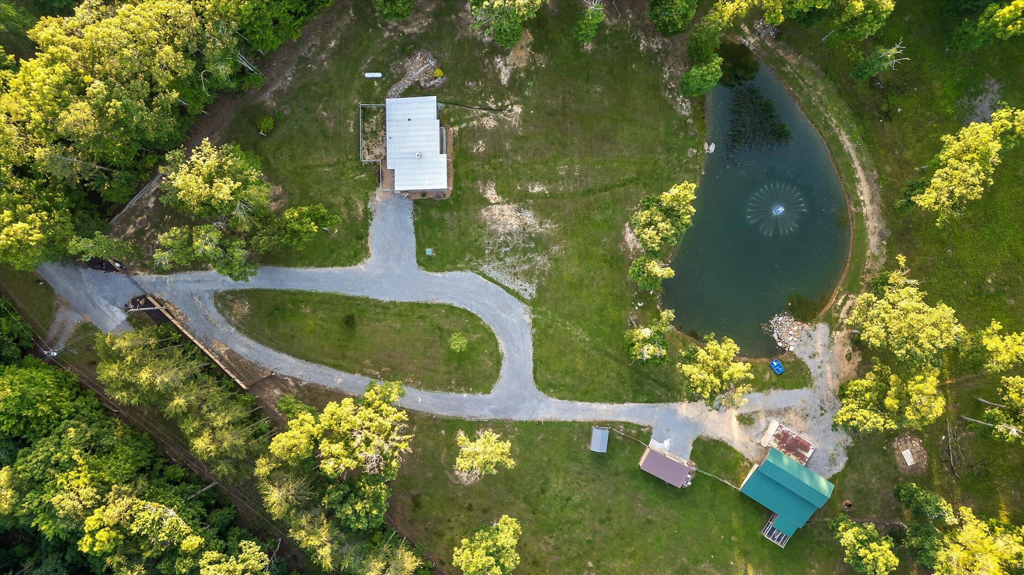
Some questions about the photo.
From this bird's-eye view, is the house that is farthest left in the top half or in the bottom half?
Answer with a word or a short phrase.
top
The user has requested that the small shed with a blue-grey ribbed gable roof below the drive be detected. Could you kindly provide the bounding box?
[590,426,609,453]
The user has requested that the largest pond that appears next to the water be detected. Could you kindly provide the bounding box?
[662,42,851,359]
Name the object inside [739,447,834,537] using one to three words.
barn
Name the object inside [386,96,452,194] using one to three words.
house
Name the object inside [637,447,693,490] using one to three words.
building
